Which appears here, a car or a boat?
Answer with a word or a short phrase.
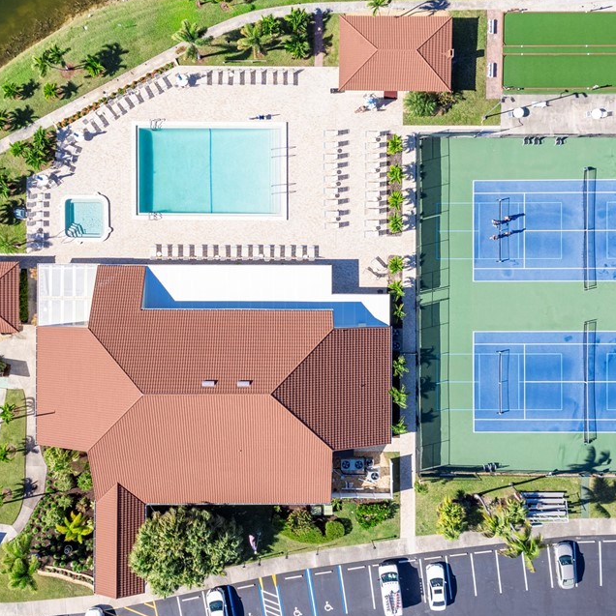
car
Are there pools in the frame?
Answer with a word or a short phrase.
Yes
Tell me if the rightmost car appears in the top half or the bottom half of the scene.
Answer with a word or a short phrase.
bottom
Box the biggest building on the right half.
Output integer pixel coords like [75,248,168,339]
[339,14,455,100]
